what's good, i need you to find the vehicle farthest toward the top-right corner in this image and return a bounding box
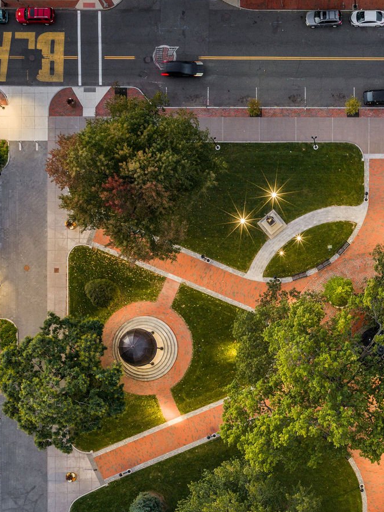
[351,6,384,25]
